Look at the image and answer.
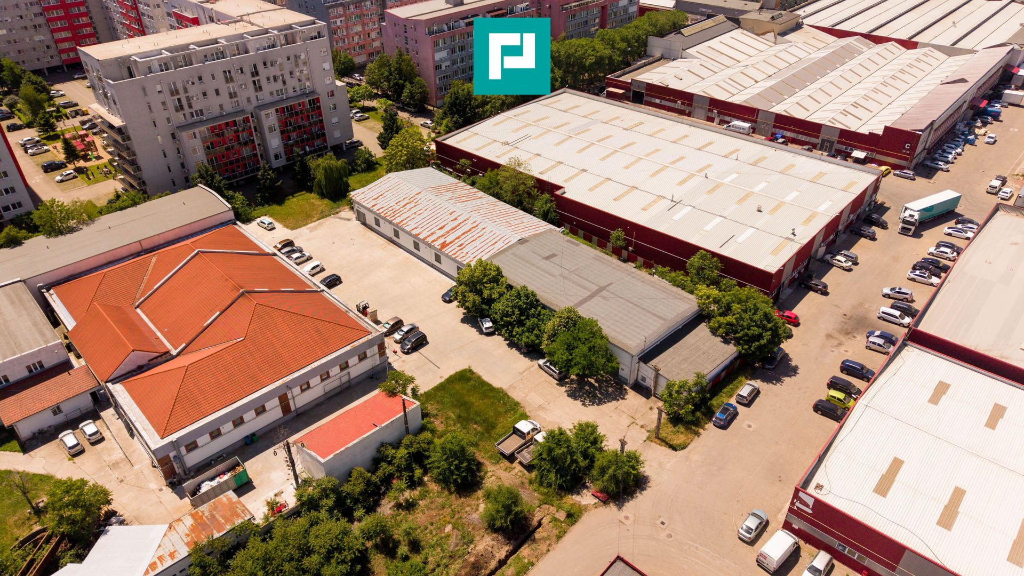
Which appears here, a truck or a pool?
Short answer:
truck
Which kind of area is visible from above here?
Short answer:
industrial area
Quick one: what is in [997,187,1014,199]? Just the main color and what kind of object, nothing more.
white vehicle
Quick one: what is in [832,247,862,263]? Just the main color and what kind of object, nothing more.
gray car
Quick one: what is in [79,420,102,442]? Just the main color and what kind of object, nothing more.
white car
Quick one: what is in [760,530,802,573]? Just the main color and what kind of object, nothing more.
white van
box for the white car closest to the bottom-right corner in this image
[803,547,835,576]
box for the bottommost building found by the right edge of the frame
[783,339,1024,576]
